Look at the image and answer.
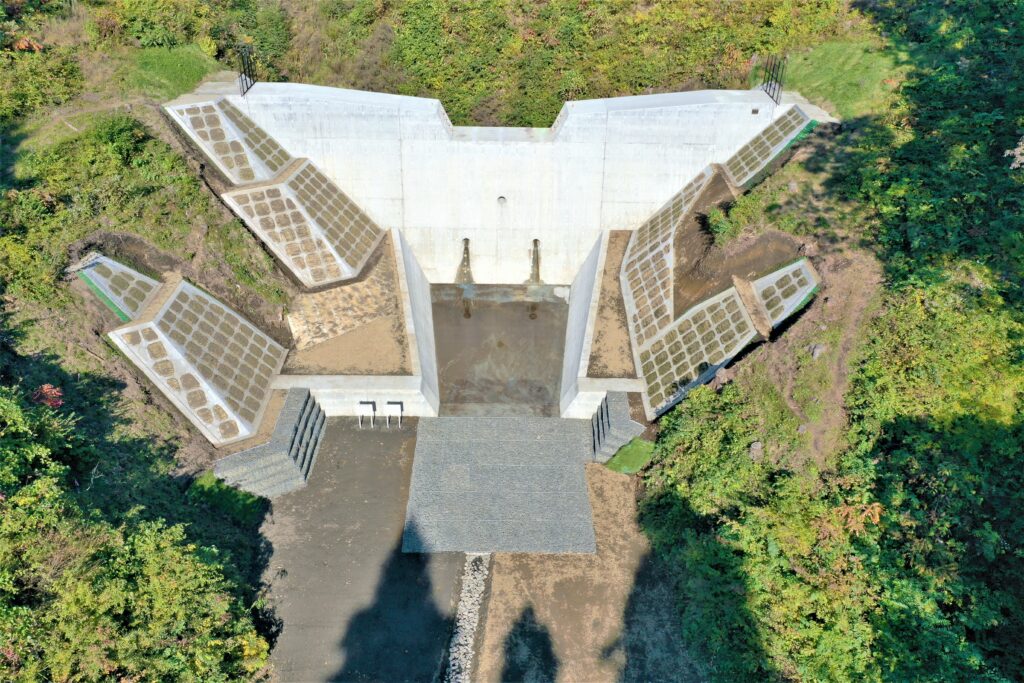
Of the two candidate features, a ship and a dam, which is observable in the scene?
dam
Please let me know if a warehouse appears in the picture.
No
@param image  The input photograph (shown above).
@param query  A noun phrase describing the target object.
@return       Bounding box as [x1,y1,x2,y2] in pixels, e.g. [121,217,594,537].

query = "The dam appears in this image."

[214,84,798,285]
